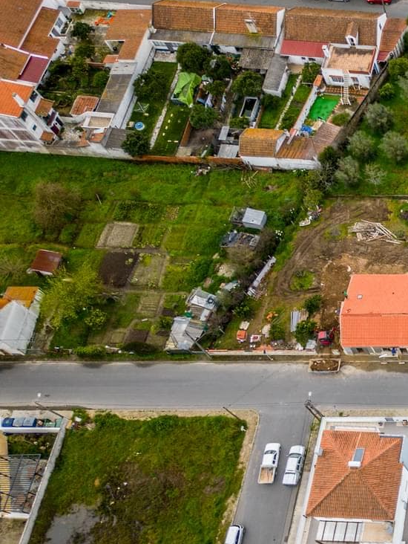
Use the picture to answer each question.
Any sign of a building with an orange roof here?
Yes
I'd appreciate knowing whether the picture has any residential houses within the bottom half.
Yes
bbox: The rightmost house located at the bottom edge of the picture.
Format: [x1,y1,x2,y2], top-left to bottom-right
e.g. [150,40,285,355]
[306,426,408,544]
